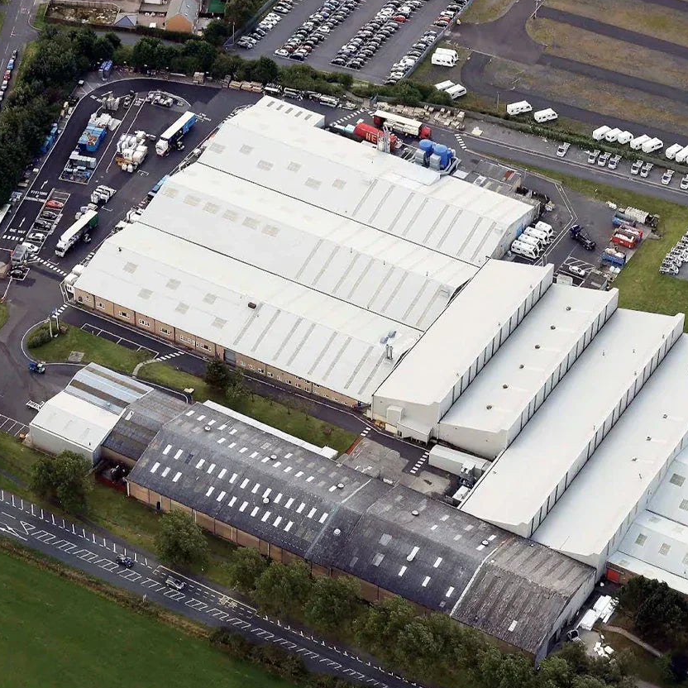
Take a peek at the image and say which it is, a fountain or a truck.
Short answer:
truck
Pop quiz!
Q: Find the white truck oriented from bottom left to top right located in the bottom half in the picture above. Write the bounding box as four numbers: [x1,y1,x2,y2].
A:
[580,591,610,629]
